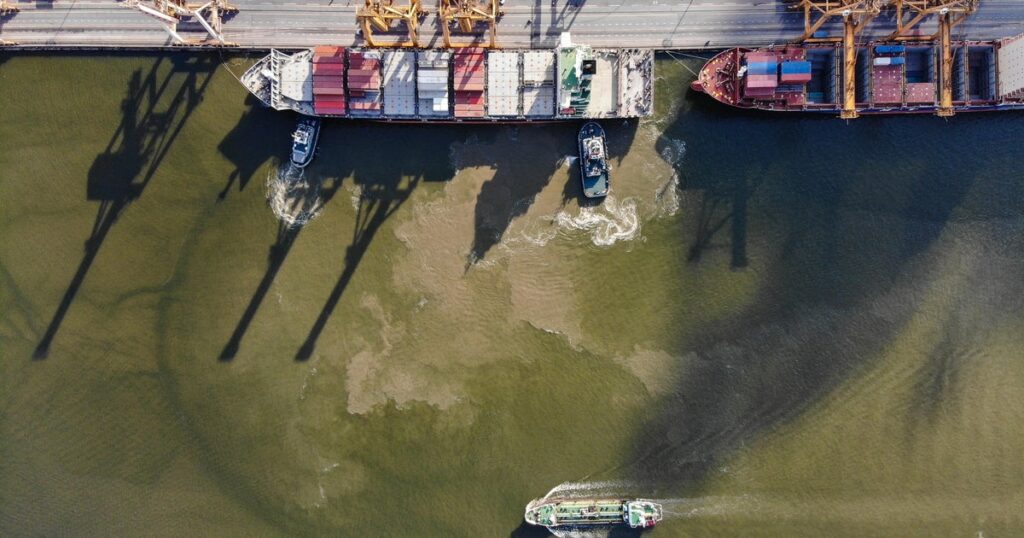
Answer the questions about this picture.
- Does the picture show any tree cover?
No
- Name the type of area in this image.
port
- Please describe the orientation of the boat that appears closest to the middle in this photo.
vertically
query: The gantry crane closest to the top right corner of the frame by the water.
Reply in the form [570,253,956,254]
[871,0,980,127]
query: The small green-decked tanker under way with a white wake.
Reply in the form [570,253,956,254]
[527,498,662,532]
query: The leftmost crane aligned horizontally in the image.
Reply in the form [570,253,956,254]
[129,0,239,46]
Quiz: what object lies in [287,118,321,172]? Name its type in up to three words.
boat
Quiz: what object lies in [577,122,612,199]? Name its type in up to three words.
boat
